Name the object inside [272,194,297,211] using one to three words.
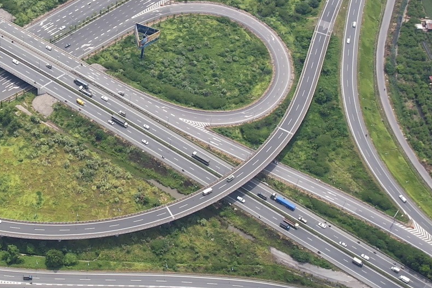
vehicle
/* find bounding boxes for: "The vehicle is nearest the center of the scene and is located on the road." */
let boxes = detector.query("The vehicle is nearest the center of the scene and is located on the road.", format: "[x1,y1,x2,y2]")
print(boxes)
[189,150,212,166]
